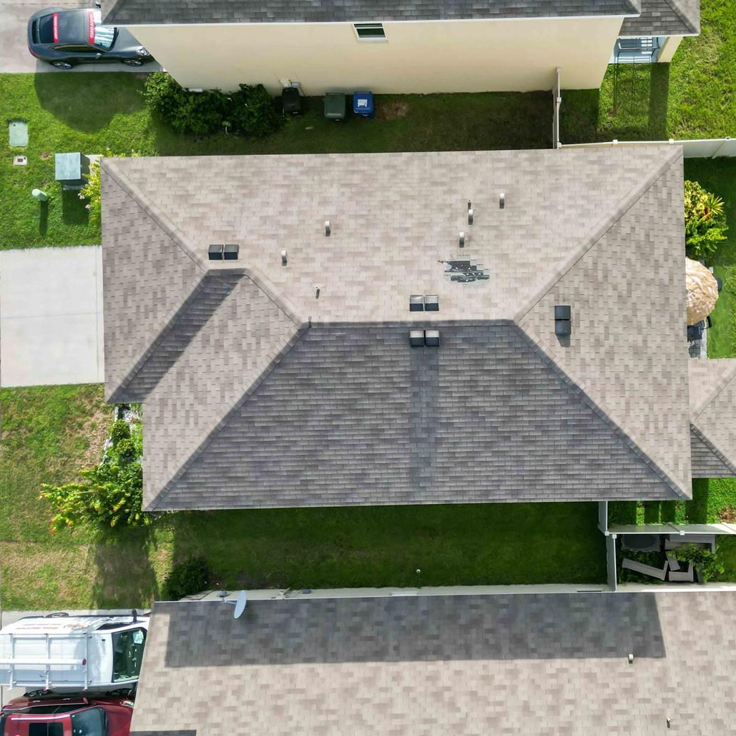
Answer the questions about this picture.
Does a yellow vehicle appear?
No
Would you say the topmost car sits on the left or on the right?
left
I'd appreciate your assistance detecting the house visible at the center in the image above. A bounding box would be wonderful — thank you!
[101,142,736,514]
